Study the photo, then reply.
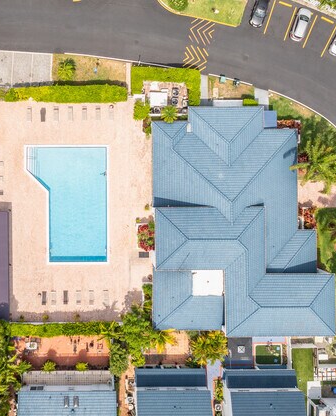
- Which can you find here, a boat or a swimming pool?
swimming pool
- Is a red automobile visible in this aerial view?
No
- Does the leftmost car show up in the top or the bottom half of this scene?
top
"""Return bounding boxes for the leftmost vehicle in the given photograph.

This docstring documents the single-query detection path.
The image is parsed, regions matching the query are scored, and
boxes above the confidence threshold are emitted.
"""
[250,0,271,27]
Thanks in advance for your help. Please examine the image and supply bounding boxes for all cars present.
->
[327,33,336,57]
[250,0,271,27]
[288,7,312,44]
